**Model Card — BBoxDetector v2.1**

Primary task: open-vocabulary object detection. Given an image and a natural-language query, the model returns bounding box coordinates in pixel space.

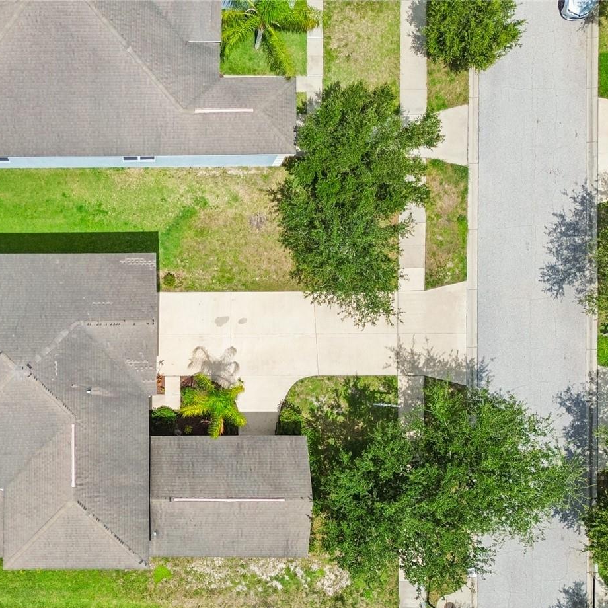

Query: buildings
[0,253,315,571]
[0,0,296,168]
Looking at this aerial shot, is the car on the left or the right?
right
